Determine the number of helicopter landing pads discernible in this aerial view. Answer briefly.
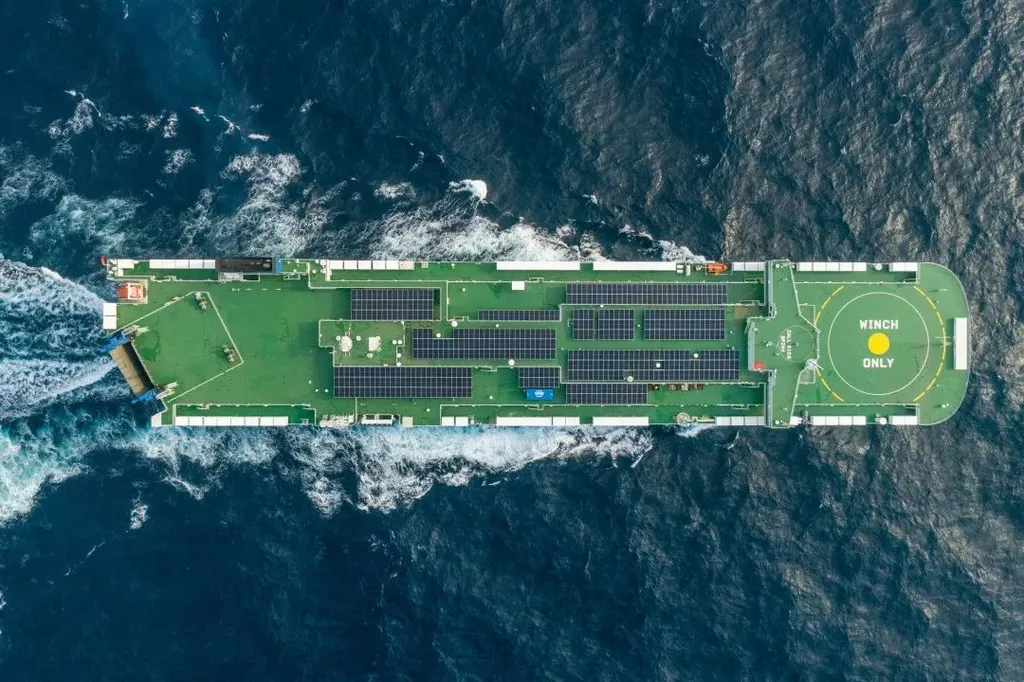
1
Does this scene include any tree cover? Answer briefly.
No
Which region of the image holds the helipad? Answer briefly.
right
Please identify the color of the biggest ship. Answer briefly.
green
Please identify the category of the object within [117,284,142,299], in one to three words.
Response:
boat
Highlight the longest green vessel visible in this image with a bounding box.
[102,257,971,428]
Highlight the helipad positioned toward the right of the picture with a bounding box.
[814,284,948,403]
